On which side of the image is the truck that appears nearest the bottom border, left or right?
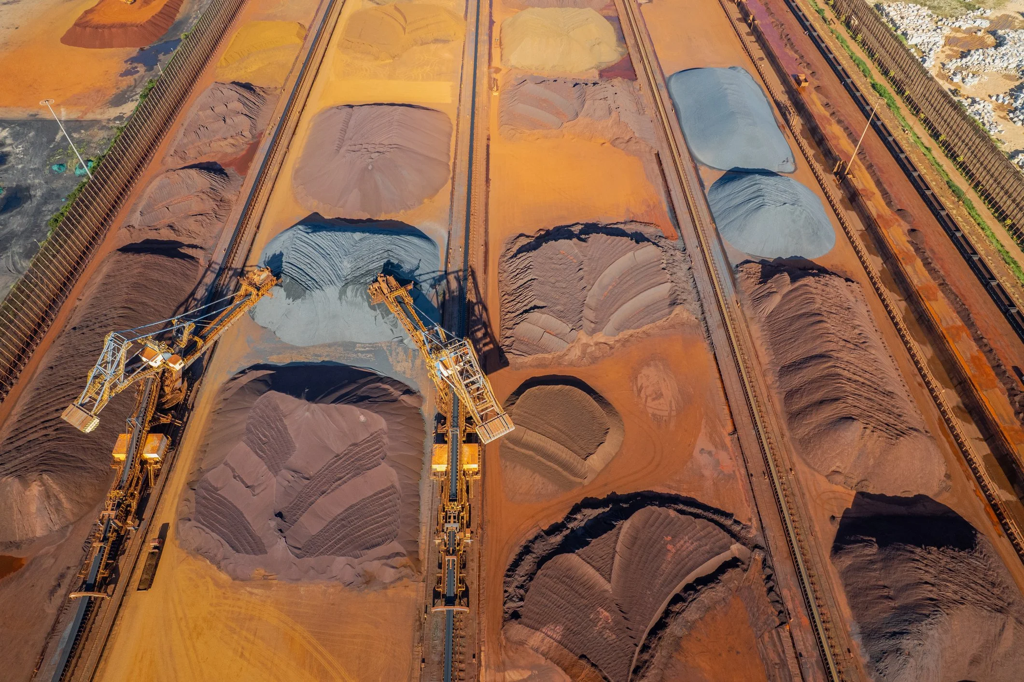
left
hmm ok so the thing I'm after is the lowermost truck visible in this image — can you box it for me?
[134,539,169,602]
